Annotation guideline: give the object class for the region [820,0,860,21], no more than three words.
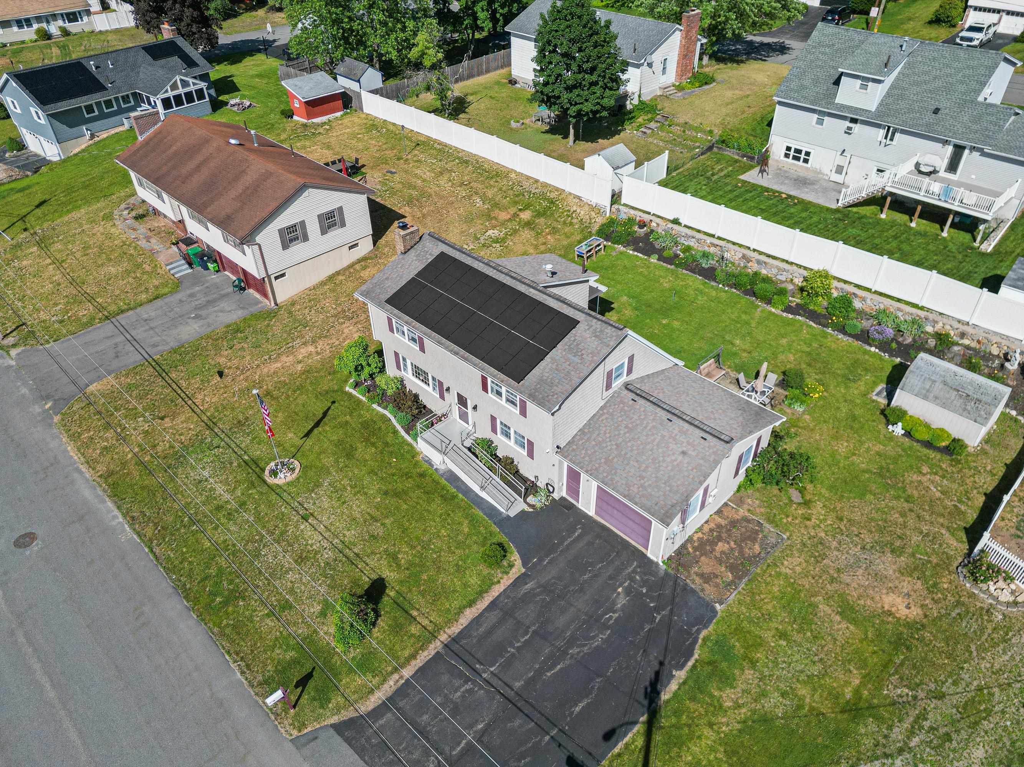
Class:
car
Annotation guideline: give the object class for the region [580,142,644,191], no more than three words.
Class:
shed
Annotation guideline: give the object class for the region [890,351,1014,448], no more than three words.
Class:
shed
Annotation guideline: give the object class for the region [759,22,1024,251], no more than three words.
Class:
house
